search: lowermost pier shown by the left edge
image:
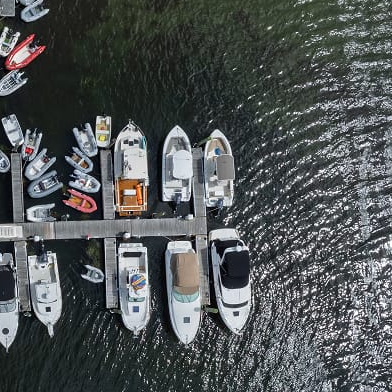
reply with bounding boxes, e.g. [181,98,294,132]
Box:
[14,240,30,312]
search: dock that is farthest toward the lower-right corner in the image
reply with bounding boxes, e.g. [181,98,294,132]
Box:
[195,235,209,304]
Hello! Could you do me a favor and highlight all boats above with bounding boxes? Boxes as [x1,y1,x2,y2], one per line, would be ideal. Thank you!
[25,148,58,180]
[27,241,61,335]
[0,25,21,56]
[202,129,233,220]
[70,120,100,156]
[28,170,65,199]
[66,170,100,193]
[162,240,202,344]
[62,150,93,175]
[0,151,10,173]
[59,188,96,214]
[0,67,30,96]
[22,0,52,22]
[76,264,104,280]
[159,125,192,215]
[0,251,19,350]
[19,126,43,160]
[96,110,111,148]
[4,32,46,71]
[27,203,60,222]
[0,110,24,145]
[207,227,254,334]
[117,243,149,333]
[113,122,147,215]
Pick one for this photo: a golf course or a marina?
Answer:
marina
